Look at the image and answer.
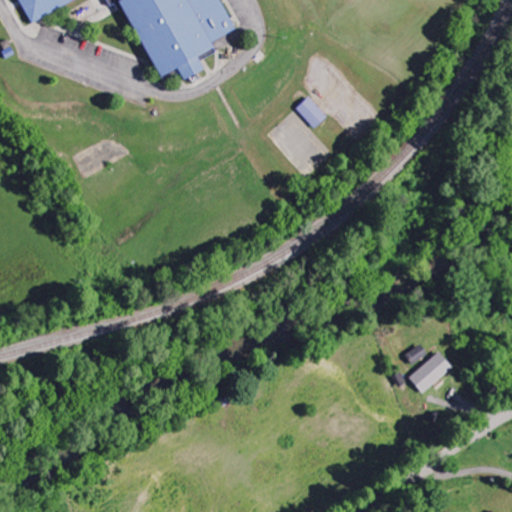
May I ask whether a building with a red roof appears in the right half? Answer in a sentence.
No, looking in the right half, there is no building with a red roof.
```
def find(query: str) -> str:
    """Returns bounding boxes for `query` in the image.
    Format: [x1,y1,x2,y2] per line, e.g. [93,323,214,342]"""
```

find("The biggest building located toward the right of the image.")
[409,352,452,392]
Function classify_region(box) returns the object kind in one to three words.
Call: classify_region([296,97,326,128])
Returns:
shed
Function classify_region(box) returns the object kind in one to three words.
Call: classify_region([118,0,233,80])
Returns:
building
